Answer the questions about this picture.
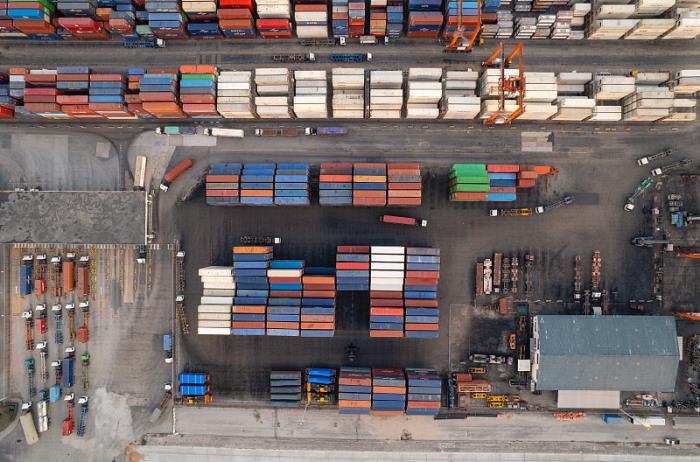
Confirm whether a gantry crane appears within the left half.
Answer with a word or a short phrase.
No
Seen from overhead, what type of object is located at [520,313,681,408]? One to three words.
building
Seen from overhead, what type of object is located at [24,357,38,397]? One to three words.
vehicle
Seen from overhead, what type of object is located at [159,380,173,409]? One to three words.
vehicle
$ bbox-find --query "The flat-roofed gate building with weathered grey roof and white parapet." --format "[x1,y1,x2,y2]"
[0,188,147,247]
